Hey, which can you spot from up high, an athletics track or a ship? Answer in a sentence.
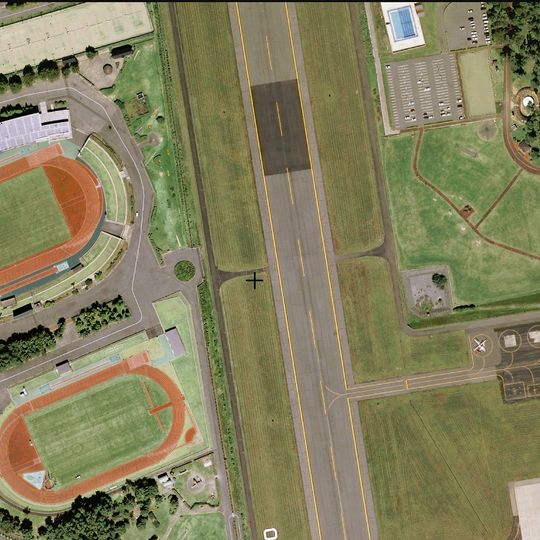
Looking from above, you can make out an athletics track.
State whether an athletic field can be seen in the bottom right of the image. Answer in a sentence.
No, looking in the bottom right of the image, there is no athletic field.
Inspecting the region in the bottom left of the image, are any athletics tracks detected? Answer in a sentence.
Yes, I can see an athletics track in the bottom left of the image.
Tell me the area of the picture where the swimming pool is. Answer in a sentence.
The swimming pool is in the top right part of the image.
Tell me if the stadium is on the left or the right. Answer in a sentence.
You can find the stadium on the left side of the picture.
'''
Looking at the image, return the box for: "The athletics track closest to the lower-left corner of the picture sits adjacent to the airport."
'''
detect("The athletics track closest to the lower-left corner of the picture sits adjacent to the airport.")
[0,352,202,503]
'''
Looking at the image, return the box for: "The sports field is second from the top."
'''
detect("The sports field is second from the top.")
[458,49,496,119]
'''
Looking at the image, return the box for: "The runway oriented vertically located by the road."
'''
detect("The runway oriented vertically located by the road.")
[236,0,371,540]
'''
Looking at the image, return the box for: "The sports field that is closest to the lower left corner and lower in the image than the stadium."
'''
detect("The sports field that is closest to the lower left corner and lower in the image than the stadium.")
[26,374,172,489]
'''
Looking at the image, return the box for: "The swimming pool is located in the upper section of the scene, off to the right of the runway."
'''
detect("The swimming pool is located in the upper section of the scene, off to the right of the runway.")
[381,0,425,52]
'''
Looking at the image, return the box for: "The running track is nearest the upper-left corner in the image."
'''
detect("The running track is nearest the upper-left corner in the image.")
[0,143,103,294]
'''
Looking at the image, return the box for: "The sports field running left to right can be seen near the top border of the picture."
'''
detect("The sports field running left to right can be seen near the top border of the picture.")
[0,0,153,74]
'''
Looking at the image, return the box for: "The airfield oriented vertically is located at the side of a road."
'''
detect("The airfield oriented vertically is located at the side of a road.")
[227,0,540,540]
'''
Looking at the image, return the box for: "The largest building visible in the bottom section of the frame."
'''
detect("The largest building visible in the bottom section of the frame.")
[166,327,185,357]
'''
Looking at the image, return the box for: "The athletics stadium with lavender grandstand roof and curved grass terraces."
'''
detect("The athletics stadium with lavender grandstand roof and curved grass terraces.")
[0,102,134,326]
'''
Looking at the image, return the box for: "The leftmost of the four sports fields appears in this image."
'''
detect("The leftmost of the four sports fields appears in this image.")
[0,166,71,266]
